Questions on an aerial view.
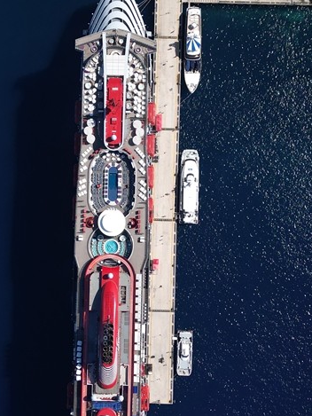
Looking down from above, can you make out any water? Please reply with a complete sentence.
Yes, there is water in the image.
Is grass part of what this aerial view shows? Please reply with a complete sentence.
No, the scene doesn't show any grass.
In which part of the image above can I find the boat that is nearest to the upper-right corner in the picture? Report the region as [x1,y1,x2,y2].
[183,4,202,93]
